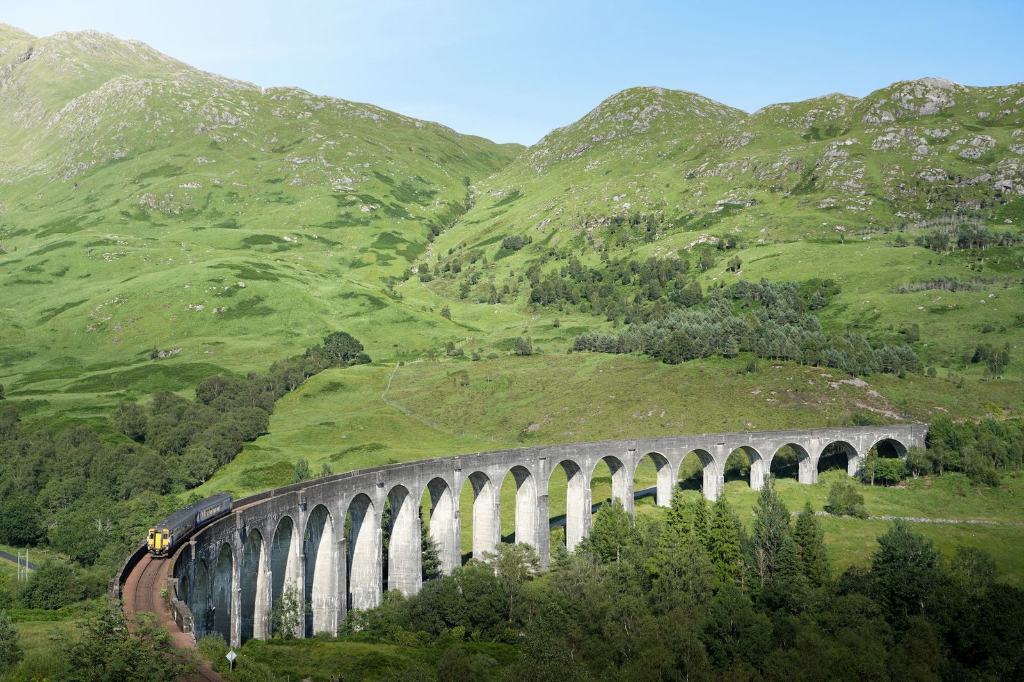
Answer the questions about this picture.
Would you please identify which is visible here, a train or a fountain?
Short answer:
train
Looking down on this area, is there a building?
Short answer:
No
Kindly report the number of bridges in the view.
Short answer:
1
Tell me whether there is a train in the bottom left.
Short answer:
Yes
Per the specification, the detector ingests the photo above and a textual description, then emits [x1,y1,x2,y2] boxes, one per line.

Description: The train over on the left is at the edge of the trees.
[148,492,233,555]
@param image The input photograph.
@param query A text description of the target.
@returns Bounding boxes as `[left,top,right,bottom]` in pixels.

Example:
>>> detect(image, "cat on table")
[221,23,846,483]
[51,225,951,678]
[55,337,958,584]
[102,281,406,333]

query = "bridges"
[99,423,941,649]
